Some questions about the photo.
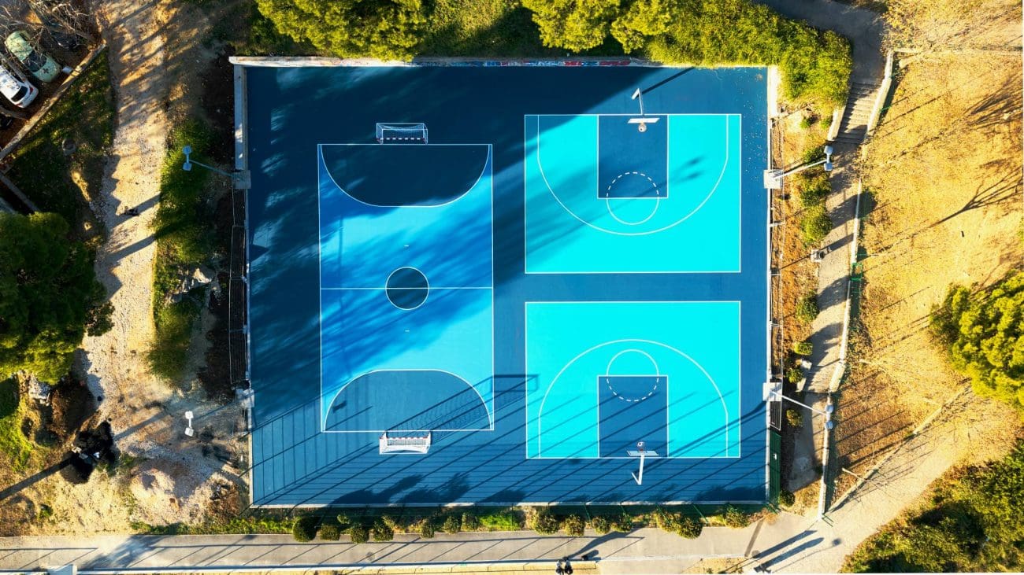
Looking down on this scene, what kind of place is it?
sports ground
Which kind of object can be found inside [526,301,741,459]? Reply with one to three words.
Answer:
basketball court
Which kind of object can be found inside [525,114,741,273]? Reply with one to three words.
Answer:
basketball court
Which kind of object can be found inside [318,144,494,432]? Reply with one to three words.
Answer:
soccer field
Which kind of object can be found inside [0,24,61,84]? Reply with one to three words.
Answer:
car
